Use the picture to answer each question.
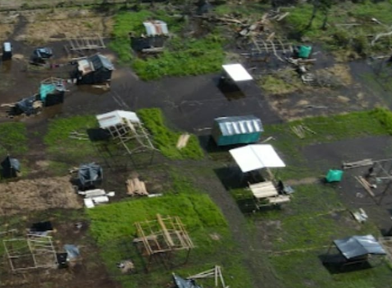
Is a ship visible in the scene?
No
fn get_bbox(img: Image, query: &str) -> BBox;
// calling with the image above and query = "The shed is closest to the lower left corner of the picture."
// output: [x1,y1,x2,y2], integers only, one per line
[3,236,56,277]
